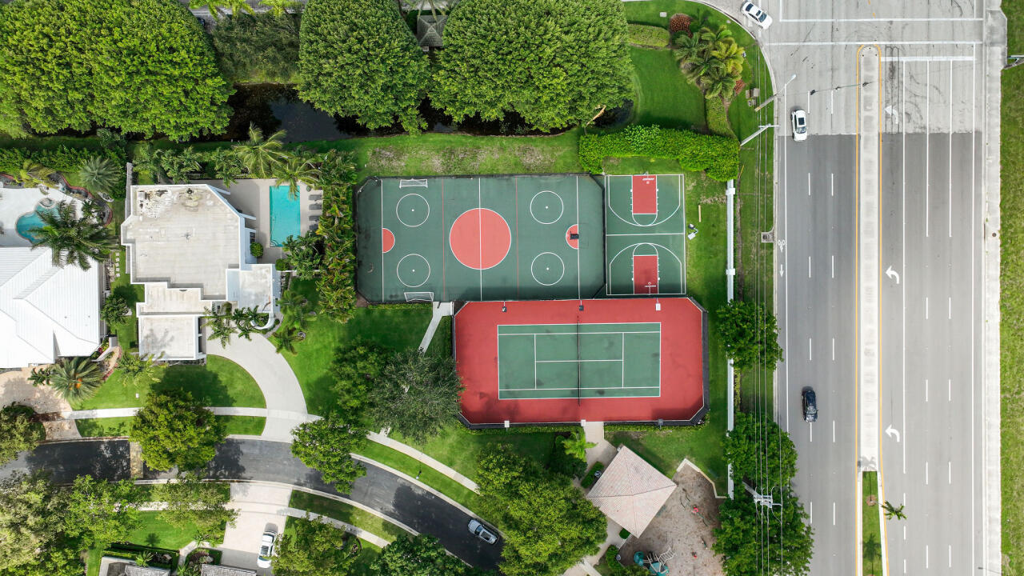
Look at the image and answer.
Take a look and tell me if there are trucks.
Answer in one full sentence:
No, the scene contains no truck.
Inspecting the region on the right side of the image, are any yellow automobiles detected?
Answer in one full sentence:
No, the scene shows no yellow automobile on the right side of the image.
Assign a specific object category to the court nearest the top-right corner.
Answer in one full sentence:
It turns out the court nearest the top-right corner is a basketball court.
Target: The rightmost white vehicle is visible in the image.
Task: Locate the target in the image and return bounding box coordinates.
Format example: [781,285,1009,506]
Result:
[790,109,808,141]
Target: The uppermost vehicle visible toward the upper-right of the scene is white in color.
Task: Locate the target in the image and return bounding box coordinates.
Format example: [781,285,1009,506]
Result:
[742,0,773,26]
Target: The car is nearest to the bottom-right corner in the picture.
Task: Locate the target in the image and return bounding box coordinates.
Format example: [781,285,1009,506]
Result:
[802,390,820,422]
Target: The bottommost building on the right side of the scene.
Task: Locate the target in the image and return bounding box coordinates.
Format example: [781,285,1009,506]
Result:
[589,446,677,538]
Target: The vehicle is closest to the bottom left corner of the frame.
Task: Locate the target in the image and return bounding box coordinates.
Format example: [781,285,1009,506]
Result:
[256,532,276,566]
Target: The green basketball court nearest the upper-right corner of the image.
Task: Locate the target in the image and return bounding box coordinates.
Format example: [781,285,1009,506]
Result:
[605,174,687,297]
